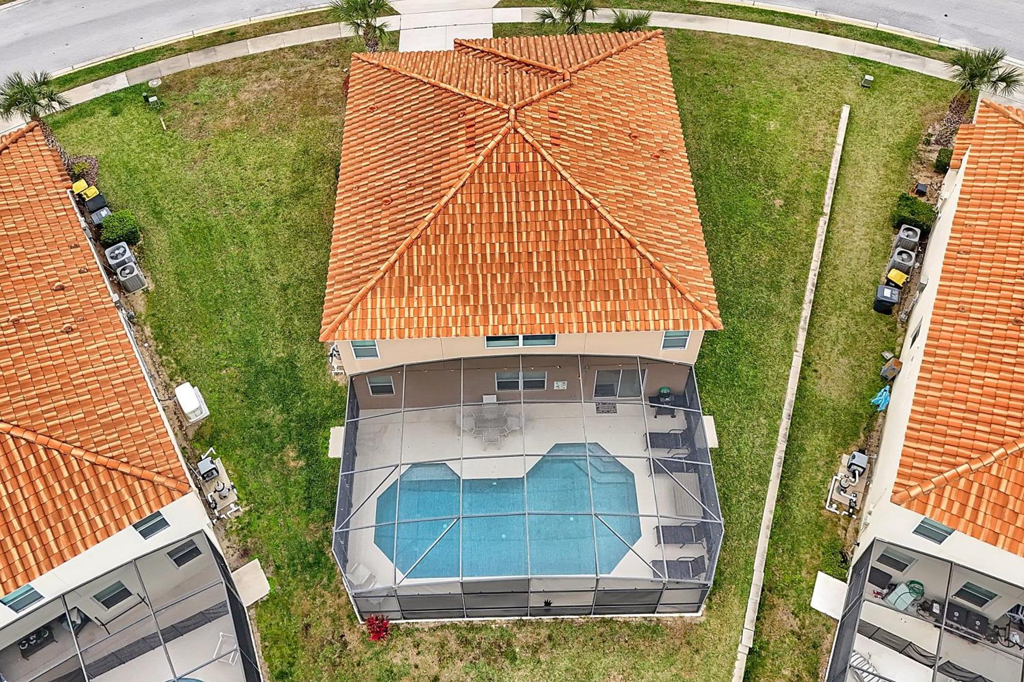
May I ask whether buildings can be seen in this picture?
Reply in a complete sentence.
Yes, the frame does contain a building.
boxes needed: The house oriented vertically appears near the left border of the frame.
[0,121,221,669]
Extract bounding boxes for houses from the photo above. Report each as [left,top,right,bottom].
[316,28,723,407]
[0,121,221,669]
[855,95,1024,628]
